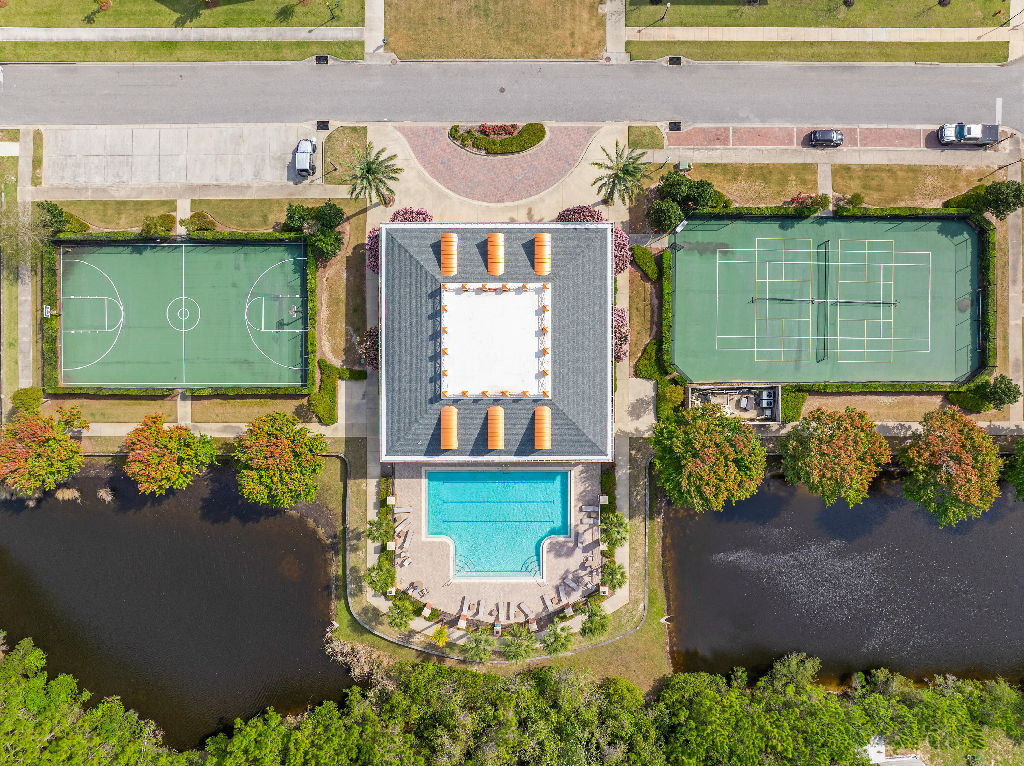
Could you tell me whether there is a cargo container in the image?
No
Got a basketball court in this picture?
Yes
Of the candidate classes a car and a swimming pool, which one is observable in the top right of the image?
car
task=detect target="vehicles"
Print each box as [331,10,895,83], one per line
[937,122,997,147]
[295,135,317,175]
[809,125,844,145]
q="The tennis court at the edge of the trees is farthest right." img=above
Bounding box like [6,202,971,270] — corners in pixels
[670,217,978,383]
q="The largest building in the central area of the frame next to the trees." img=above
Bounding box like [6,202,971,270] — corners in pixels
[380,222,613,463]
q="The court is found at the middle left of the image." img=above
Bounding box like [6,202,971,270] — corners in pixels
[57,241,308,388]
